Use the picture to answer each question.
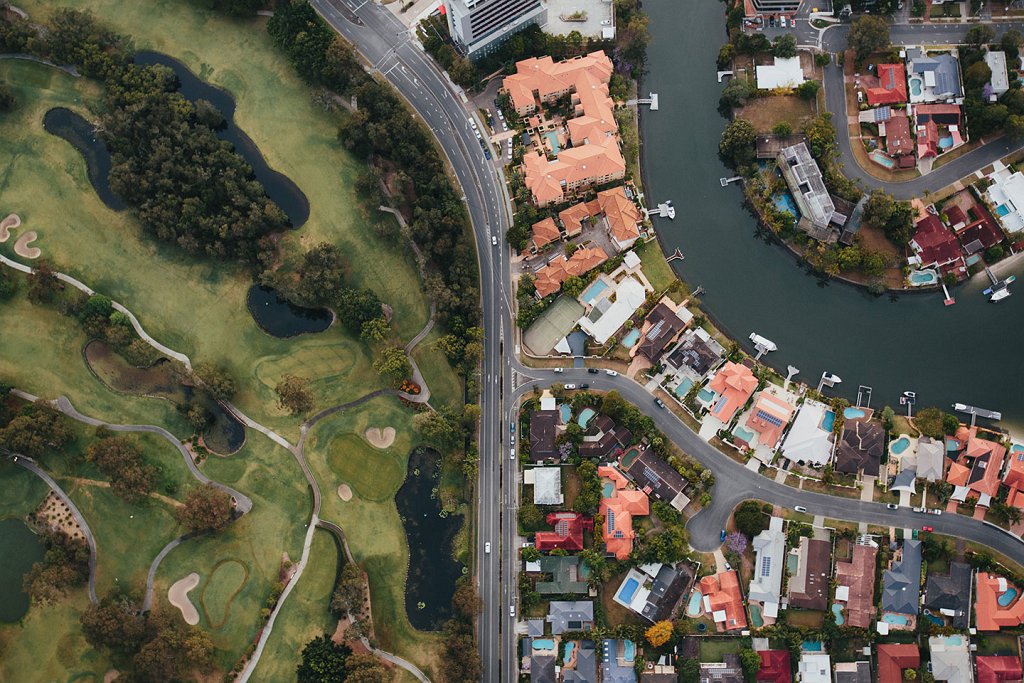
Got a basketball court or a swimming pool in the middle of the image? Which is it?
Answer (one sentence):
There is a swimming pool in the middle of the image.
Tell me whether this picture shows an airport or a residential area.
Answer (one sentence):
The area seen from above is a residential area.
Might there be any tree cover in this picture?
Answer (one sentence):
Yes, some tree cover is visible.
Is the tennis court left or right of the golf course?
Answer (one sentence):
Relative to the golf course, the tennis court is on the right.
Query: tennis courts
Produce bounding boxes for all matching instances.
[523,293,586,355]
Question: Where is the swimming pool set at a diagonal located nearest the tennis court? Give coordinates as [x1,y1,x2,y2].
[582,279,608,302]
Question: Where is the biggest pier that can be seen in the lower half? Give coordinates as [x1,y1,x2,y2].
[953,403,1002,427]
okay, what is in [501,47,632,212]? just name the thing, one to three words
building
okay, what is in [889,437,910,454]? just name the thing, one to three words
swimming pool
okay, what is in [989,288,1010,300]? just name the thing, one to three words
boat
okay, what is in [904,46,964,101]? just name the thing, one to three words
house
